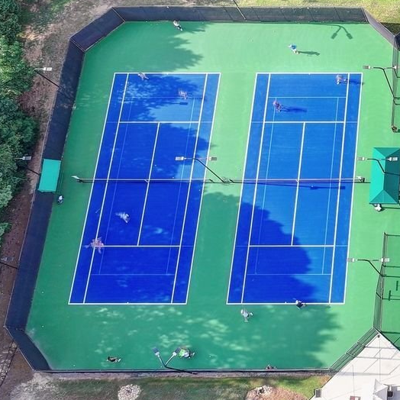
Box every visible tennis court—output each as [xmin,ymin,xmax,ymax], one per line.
[69,74,219,304]
[227,74,362,304]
